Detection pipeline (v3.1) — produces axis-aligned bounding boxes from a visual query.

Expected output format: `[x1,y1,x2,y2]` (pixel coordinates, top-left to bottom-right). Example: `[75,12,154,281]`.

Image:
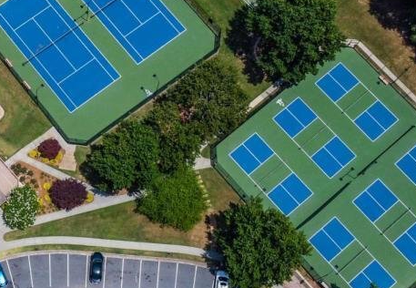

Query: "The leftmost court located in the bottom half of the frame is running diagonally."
[229,132,314,214]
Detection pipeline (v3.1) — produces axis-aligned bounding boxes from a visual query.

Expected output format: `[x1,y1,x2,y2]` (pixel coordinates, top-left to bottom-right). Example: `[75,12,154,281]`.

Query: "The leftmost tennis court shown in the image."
[0,0,122,113]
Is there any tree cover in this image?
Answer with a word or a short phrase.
Yes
